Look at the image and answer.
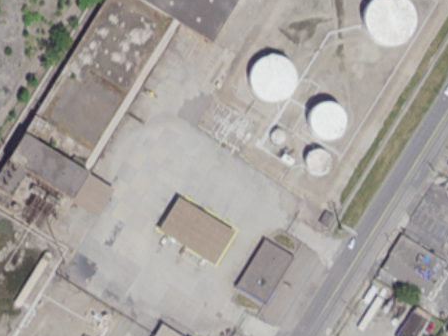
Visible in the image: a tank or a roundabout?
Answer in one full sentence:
Looking from above, you can make out a tank.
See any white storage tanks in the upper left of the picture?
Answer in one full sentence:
No, no white storage tank can be made out in the upper left of the picture.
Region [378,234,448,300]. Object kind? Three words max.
building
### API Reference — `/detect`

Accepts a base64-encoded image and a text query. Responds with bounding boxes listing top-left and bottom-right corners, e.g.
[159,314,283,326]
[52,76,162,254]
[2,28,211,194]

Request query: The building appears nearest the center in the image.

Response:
[161,194,234,264]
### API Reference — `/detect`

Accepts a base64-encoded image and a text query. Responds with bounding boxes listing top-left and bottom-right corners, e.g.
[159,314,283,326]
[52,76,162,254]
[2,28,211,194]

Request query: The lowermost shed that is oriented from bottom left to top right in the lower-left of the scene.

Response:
[14,253,51,306]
